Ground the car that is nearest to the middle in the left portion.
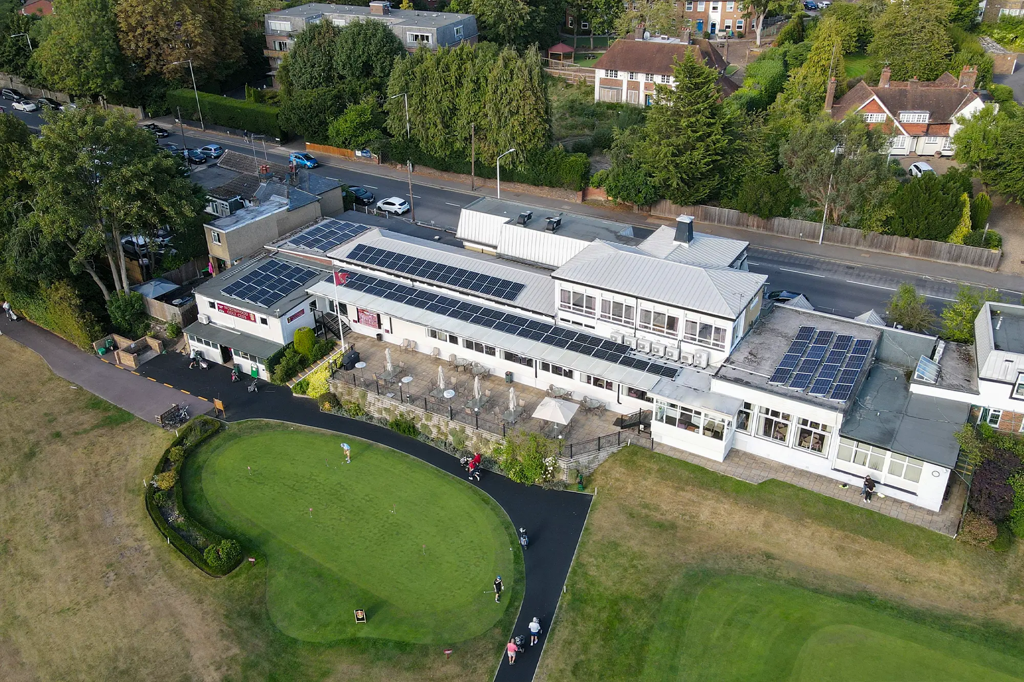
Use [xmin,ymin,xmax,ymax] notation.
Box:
[373,193,411,214]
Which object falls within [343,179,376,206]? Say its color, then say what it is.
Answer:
black car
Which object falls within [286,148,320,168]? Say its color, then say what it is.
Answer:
blue car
